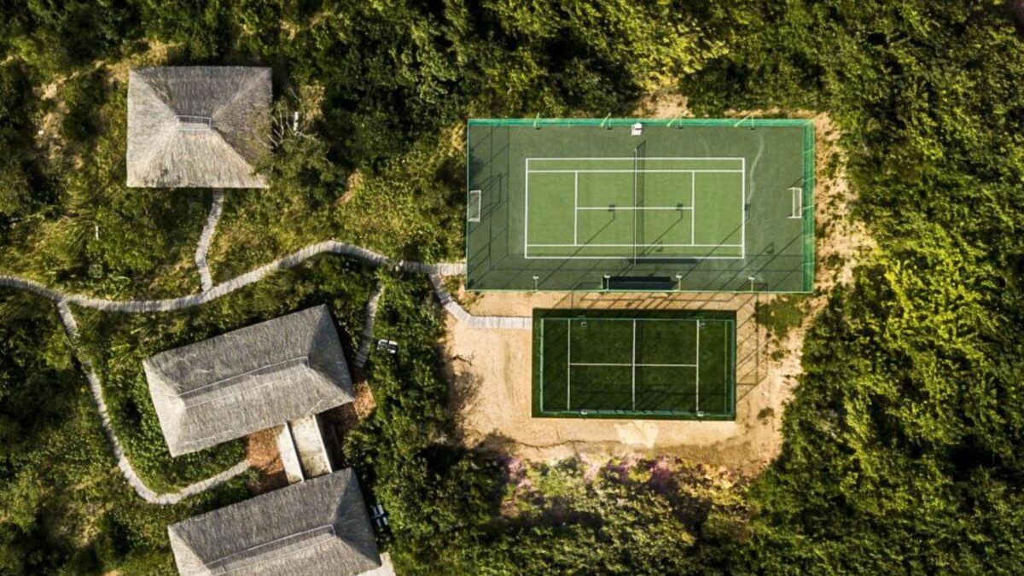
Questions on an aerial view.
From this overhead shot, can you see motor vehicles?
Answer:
No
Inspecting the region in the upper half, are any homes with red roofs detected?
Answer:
No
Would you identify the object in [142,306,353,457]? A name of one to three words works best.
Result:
house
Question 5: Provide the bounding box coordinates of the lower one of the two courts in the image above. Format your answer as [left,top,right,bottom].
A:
[532,309,735,420]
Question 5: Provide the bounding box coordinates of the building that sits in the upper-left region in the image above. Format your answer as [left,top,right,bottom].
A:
[125,66,273,189]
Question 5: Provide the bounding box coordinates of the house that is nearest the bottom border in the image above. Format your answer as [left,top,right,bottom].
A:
[168,468,383,576]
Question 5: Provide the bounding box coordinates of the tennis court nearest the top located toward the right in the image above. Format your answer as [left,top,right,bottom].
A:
[468,126,805,291]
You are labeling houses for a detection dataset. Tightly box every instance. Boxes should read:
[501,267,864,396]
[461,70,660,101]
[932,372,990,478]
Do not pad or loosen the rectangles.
[142,306,353,457]
[168,468,383,576]
[125,66,273,189]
